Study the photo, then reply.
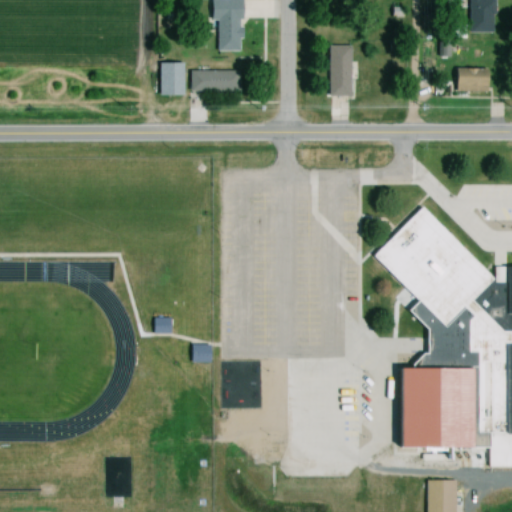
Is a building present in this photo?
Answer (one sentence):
Yes, a building is visible in the scene.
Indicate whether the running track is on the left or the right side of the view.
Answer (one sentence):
The running track is on the left side of the image.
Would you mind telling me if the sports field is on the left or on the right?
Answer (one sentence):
It is on the left.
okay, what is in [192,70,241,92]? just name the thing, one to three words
house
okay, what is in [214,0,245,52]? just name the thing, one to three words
house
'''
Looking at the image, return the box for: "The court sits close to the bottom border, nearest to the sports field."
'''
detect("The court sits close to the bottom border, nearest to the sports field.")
[106,457,132,508]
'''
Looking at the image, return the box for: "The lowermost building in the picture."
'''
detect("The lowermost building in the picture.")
[428,480,458,512]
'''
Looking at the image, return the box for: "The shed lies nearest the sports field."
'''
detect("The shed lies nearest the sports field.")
[154,316,172,333]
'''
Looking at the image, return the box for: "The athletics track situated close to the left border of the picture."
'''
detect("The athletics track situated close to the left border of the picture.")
[0,262,136,441]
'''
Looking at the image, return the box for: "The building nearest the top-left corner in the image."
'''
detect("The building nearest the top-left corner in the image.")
[160,62,186,96]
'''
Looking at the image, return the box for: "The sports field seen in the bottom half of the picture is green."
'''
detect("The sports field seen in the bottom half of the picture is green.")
[0,281,116,422]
